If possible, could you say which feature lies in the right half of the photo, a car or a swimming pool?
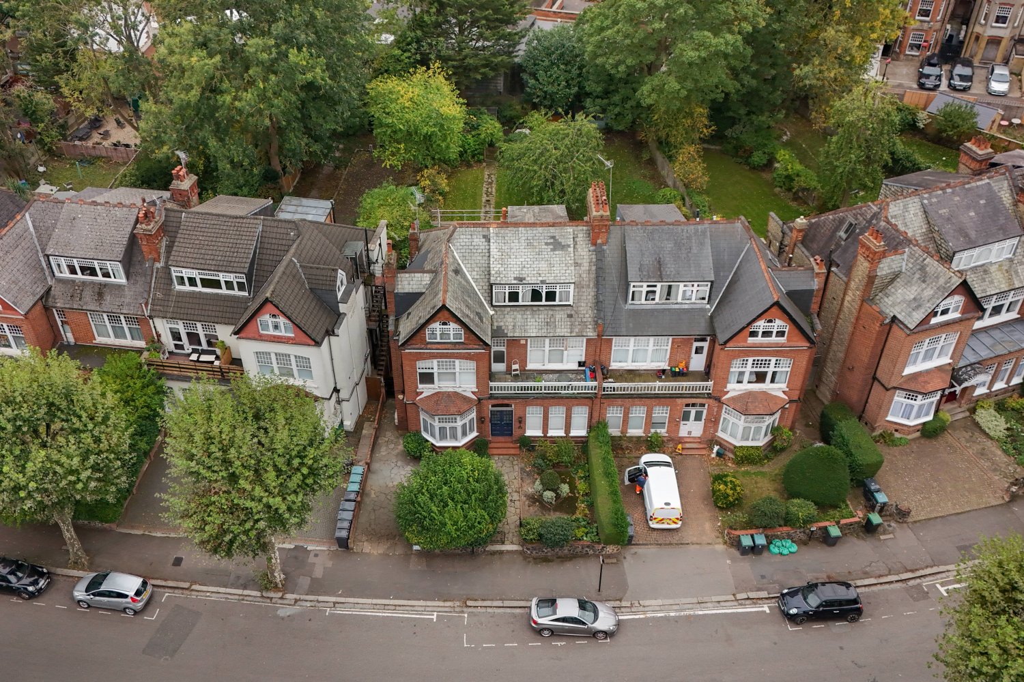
car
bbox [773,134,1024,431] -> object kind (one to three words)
house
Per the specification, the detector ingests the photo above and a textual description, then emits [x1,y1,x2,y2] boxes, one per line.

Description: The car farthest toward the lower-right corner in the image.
[783,581,863,626]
